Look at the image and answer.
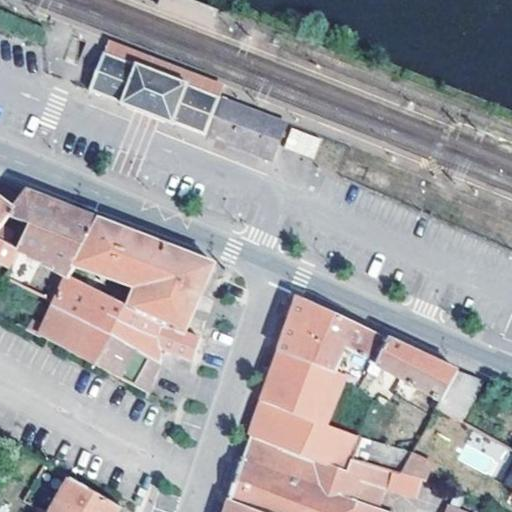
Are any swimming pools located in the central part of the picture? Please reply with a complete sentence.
No, there's no swimming pool to be seen in the central part of the picture.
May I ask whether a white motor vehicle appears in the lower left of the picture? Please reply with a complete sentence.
Yes, a white motor vehicle is visible in the lower left of the picture.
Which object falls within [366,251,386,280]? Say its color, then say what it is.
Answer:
white vehicle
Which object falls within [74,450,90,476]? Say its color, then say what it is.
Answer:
white vehicle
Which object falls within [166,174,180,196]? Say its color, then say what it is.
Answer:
white car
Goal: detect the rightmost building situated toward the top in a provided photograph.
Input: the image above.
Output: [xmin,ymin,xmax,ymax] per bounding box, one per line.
[284,128,322,158]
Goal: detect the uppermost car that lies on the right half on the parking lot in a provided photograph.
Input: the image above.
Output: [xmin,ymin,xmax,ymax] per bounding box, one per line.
[346,184,358,204]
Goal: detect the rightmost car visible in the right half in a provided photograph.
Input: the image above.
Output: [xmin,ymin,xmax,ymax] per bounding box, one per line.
[459,298,474,319]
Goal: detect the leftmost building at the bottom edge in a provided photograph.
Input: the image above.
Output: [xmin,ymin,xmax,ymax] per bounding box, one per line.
[47,477,125,512]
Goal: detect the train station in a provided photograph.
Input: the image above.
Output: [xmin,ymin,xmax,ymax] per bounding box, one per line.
[88,40,223,136]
